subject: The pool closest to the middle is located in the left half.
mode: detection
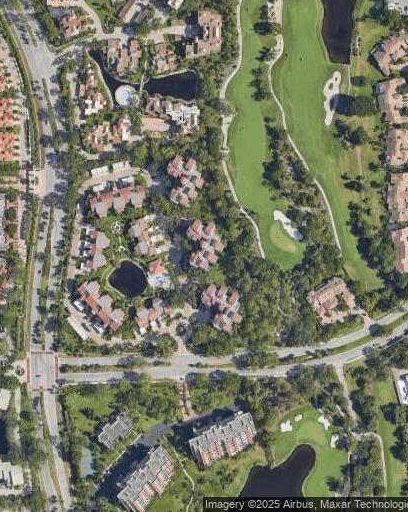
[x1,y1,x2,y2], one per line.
[147,275,171,289]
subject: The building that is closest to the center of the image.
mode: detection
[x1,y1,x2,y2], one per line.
[184,217,225,274]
